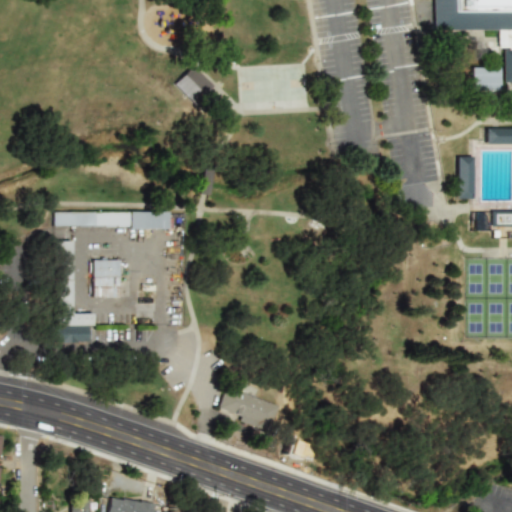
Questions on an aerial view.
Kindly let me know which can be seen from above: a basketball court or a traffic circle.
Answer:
basketball court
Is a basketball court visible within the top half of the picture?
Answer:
Yes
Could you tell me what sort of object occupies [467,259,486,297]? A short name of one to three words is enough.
sports court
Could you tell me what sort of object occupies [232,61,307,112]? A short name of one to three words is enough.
basketball court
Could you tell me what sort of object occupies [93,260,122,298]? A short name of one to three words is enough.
building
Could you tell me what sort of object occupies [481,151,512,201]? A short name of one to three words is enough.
swimming pool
